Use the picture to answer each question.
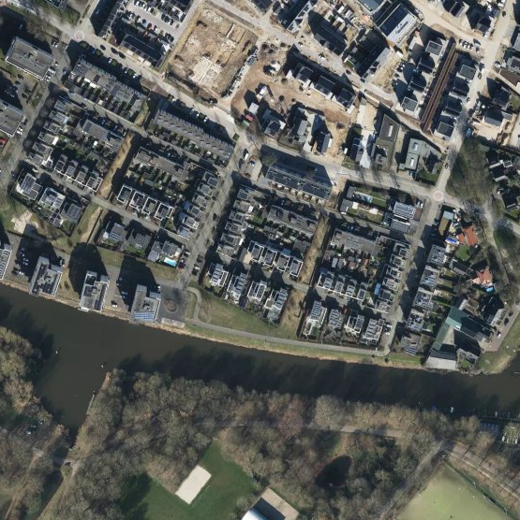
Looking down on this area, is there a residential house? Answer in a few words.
Yes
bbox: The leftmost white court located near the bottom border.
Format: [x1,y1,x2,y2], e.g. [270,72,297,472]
[175,465,211,505]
